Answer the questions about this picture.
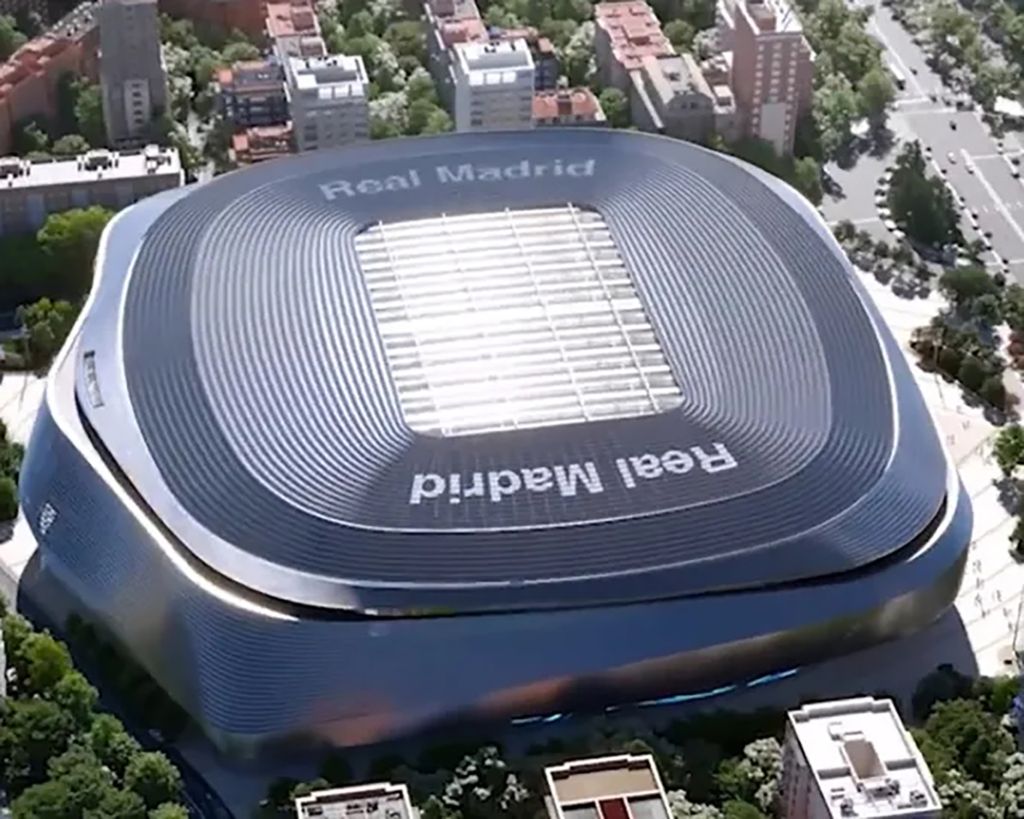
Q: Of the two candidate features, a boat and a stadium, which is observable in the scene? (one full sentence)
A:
There is a stadium in the scene.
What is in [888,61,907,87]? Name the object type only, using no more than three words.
vehicle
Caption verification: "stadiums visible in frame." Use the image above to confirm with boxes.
[17,127,977,753]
